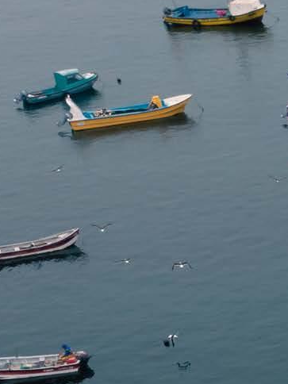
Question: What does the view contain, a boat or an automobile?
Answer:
boat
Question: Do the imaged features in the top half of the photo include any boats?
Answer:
Yes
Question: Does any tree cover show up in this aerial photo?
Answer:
No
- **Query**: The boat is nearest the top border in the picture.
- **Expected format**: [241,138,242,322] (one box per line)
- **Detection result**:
[160,0,266,25]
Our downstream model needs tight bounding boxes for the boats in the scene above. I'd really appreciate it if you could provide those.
[160,0,266,25]
[16,68,98,106]
[0,346,89,383]
[60,93,192,130]
[0,226,79,262]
